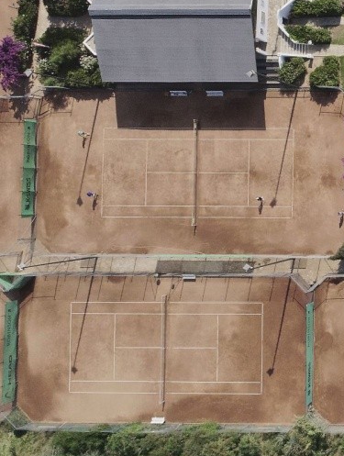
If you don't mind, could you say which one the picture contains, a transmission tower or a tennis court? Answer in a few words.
tennis court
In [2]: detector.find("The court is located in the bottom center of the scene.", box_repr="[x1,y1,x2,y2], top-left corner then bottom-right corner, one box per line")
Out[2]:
[18,276,309,424]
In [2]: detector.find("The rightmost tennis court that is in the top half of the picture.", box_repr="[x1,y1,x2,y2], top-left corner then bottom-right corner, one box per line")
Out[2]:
[37,89,344,254]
